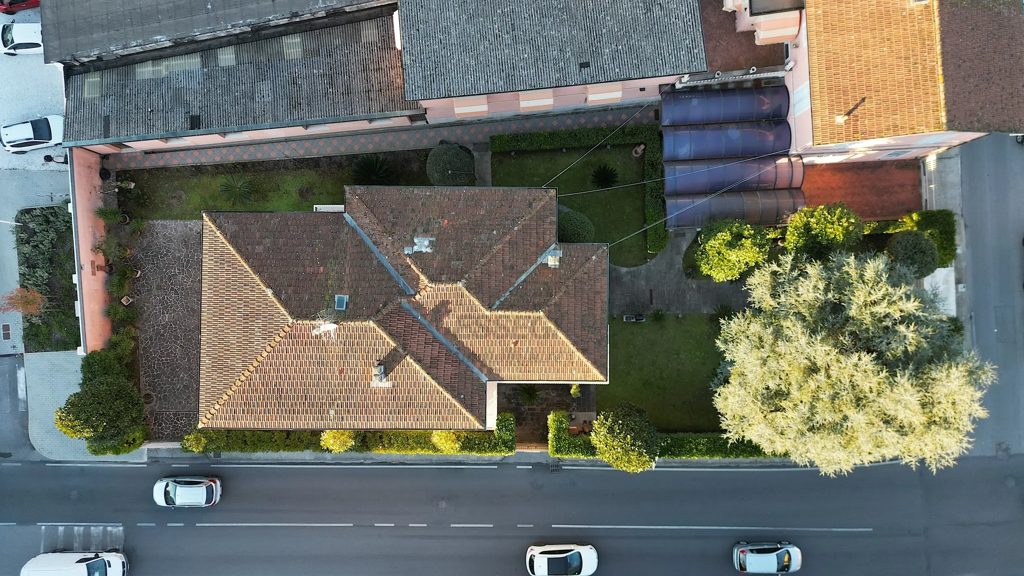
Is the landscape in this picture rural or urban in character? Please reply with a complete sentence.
This place is urban.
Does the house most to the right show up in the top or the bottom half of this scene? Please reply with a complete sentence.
The house most to the right sits in the top half of the picture.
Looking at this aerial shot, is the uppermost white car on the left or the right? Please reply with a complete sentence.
It is on the left.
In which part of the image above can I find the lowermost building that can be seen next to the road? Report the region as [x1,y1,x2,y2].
[195,184,612,432]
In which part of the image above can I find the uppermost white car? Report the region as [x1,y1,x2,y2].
[0,17,45,58]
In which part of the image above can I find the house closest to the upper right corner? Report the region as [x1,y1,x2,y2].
[768,0,1024,164]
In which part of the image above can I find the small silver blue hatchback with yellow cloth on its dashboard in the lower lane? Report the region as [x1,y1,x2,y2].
[732,539,799,576]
